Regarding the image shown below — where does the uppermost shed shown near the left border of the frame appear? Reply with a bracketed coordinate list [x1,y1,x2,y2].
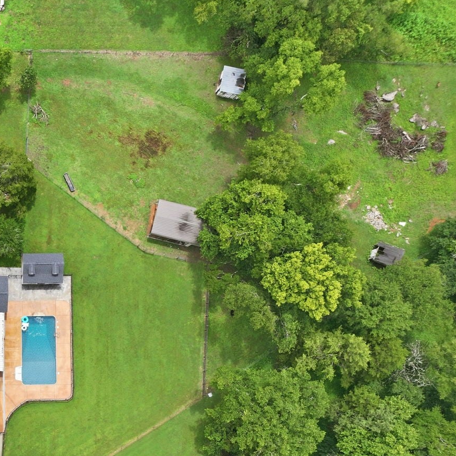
[21,253,64,285]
